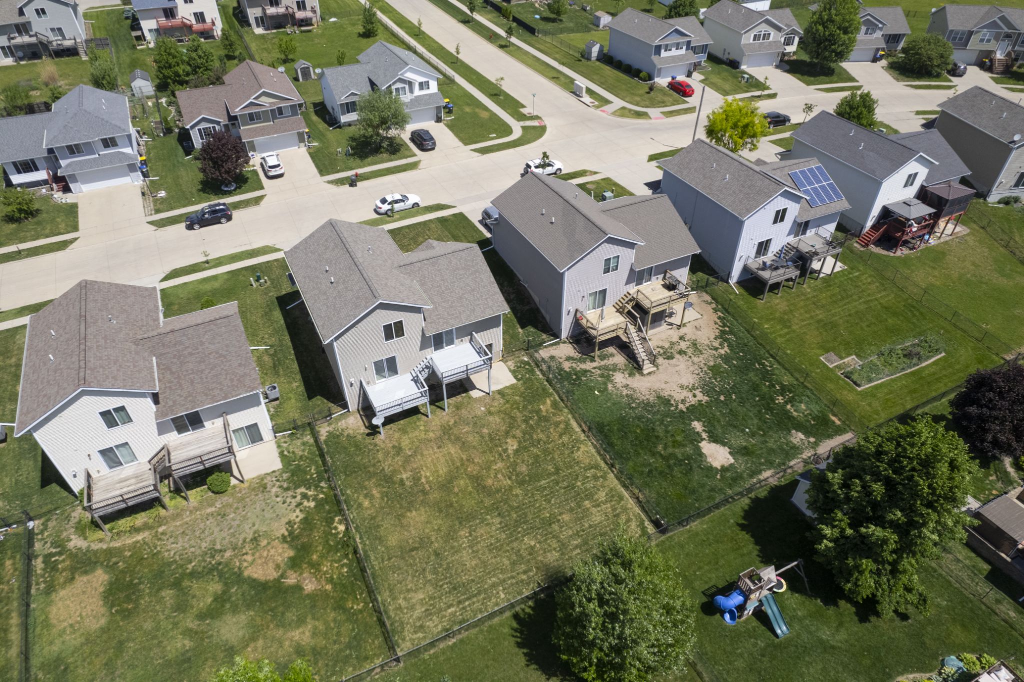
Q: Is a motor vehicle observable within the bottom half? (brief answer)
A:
No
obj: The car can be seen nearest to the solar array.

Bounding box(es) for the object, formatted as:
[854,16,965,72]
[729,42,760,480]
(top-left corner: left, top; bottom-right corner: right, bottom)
[765,109,793,128]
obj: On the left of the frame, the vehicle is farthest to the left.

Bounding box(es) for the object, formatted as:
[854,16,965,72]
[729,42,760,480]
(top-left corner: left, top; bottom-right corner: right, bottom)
[184,201,232,230]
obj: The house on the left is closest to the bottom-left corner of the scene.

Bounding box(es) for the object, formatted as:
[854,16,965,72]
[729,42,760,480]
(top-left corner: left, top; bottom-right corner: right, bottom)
[13,278,292,498]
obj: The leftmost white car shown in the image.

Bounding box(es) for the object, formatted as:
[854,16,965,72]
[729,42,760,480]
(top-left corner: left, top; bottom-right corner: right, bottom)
[261,153,284,175]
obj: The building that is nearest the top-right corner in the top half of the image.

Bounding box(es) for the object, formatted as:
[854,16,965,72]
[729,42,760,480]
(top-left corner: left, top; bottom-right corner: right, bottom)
[926,6,1024,75]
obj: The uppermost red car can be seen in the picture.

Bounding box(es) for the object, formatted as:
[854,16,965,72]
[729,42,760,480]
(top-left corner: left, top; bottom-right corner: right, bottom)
[669,80,696,95]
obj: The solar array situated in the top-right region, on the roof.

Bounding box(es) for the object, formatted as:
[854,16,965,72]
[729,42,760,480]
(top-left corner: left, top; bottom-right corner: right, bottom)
[789,164,845,207]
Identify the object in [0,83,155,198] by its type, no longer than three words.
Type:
house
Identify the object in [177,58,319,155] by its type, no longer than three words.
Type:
house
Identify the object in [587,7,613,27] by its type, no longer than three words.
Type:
shed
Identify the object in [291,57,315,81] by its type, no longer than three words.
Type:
shed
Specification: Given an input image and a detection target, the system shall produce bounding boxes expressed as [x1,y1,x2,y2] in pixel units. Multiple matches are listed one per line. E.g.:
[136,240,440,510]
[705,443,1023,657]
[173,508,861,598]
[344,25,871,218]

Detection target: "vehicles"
[765,109,793,128]
[478,203,501,229]
[521,158,562,176]
[950,58,967,73]
[413,127,435,148]
[261,153,284,175]
[669,80,696,95]
[184,201,232,230]
[375,193,422,215]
